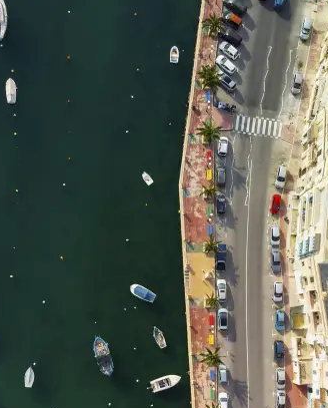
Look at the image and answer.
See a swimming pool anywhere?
No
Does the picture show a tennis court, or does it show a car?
car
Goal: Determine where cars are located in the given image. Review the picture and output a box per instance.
[218,365,228,385]
[274,311,285,330]
[270,194,281,215]
[219,41,240,60]
[218,137,229,156]
[275,391,286,408]
[217,195,227,214]
[275,167,286,187]
[221,28,242,47]
[219,393,228,408]
[272,282,283,302]
[218,56,237,74]
[271,250,281,272]
[218,309,229,331]
[274,341,285,362]
[217,166,227,187]
[225,0,246,14]
[275,368,286,388]
[218,280,227,302]
[300,19,312,40]
[270,226,281,246]
[292,74,302,94]
[223,12,242,29]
